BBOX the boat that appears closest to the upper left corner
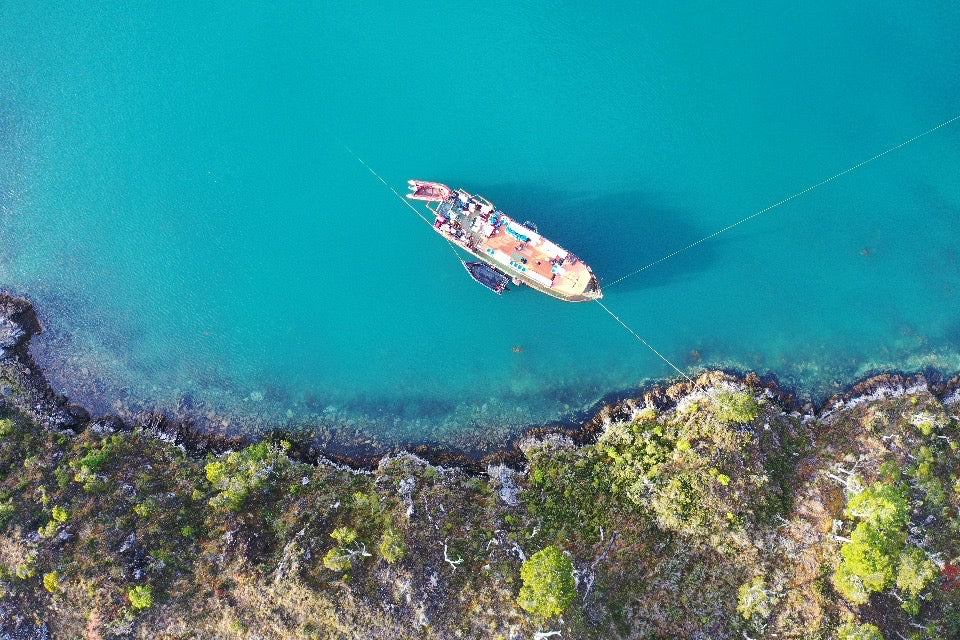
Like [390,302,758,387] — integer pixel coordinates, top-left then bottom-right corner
[405,178,452,201]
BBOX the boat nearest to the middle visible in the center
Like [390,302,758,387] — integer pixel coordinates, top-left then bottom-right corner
[464,260,513,295]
